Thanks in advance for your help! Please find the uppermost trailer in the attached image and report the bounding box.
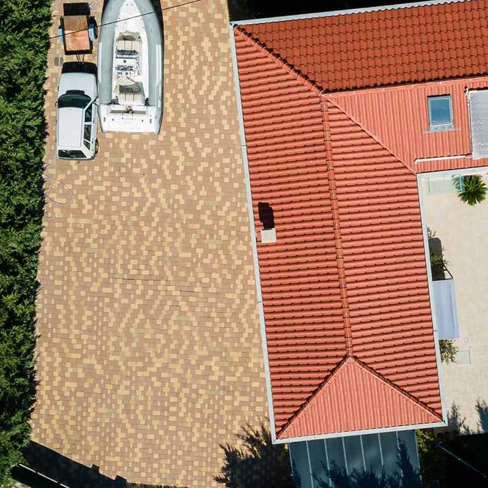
[55,11,99,70]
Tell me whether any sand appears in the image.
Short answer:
No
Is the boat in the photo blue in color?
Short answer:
No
